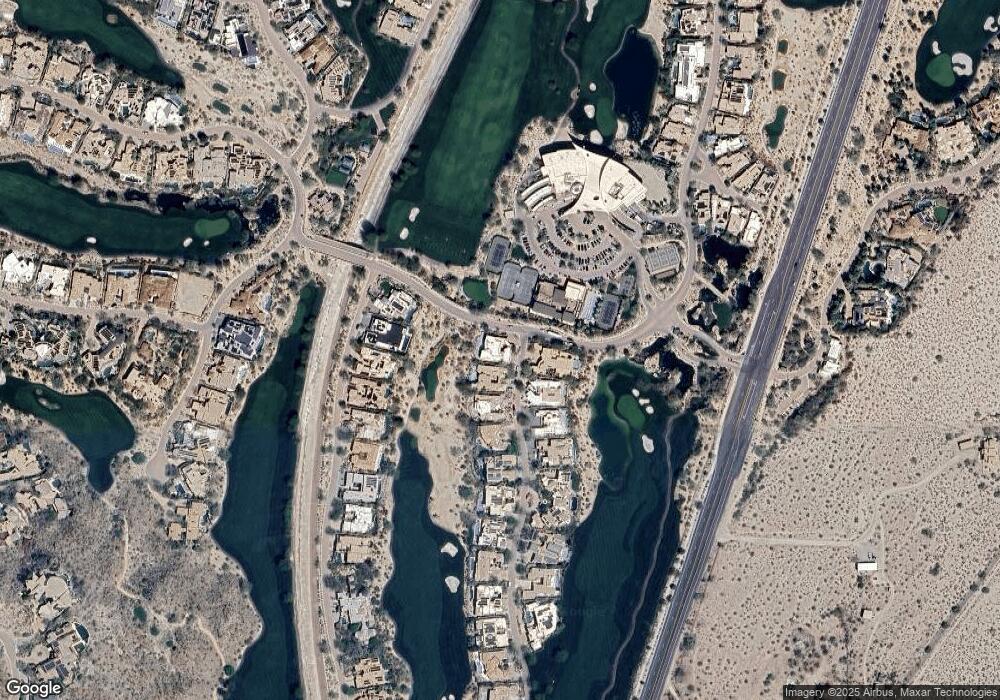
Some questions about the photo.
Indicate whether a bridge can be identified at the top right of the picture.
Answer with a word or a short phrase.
No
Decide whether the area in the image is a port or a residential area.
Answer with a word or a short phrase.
residential area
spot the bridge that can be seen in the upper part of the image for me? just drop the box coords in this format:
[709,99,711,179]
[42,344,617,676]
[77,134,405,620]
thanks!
[308,233,380,273]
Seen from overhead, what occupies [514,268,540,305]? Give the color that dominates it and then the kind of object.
gray tennis court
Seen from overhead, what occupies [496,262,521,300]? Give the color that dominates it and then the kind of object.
gray tennis court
